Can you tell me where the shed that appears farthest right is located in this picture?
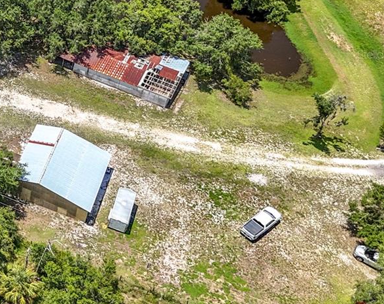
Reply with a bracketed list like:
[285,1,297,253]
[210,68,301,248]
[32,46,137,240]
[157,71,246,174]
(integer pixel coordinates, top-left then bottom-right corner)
[64,35,184,107]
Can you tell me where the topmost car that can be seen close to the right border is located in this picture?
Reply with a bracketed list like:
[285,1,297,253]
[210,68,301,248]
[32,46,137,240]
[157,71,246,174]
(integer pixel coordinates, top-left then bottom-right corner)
[353,247,384,276]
